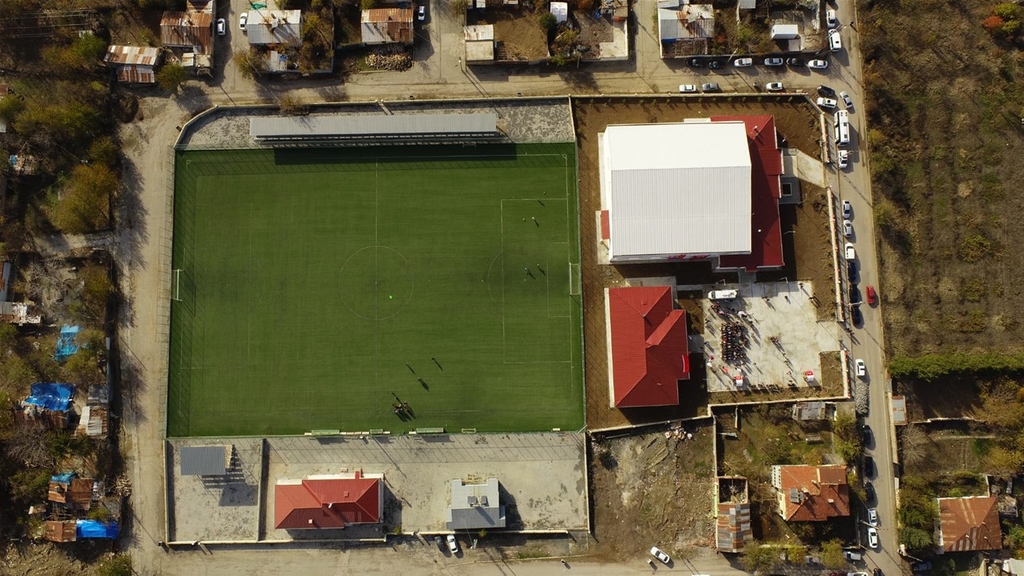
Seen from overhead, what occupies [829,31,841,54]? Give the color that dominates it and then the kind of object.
white vehicle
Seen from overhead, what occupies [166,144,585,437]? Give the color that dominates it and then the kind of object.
green soccer field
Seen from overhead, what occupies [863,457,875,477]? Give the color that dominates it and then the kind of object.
black vehicle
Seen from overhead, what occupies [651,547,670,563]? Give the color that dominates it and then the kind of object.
white car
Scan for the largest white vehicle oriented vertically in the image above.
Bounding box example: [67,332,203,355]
[833,111,849,147]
